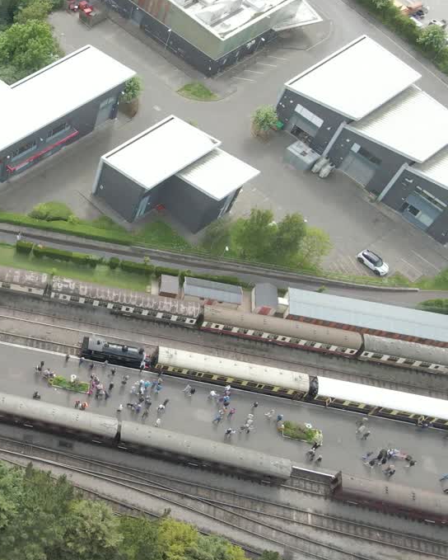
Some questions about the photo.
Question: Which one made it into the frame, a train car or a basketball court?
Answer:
train car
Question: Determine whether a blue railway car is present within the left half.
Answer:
No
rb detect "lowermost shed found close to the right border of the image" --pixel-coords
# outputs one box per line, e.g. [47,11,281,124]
[280,287,448,347]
